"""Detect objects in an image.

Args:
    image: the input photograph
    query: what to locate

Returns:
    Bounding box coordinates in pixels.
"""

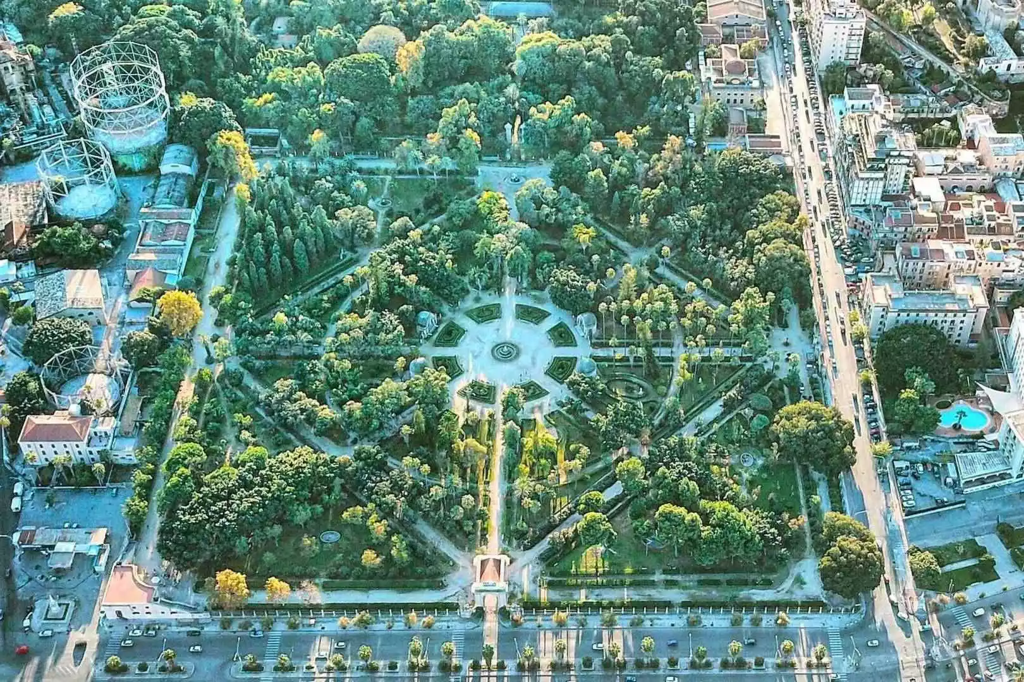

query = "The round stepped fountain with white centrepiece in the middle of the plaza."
[490,340,521,362]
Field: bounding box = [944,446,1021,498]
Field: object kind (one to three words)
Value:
building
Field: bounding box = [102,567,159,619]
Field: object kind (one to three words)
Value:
building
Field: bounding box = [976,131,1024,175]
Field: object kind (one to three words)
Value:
house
